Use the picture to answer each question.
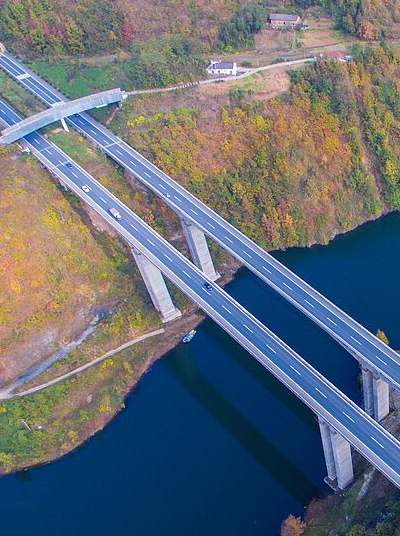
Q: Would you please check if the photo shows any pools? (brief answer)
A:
No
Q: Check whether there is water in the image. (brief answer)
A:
Yes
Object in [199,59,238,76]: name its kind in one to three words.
house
